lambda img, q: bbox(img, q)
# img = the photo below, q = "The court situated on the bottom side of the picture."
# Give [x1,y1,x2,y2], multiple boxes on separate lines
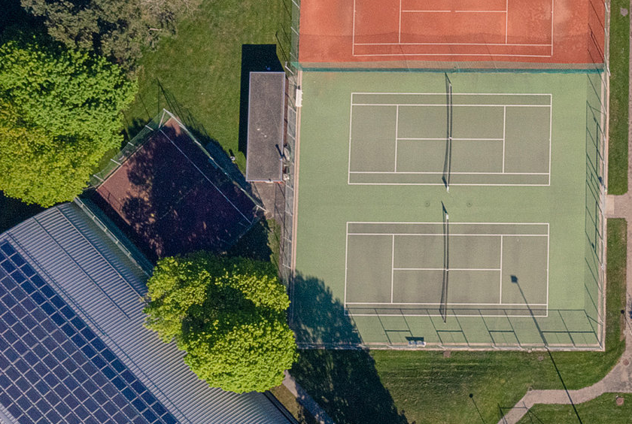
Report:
[294,203,605,344]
